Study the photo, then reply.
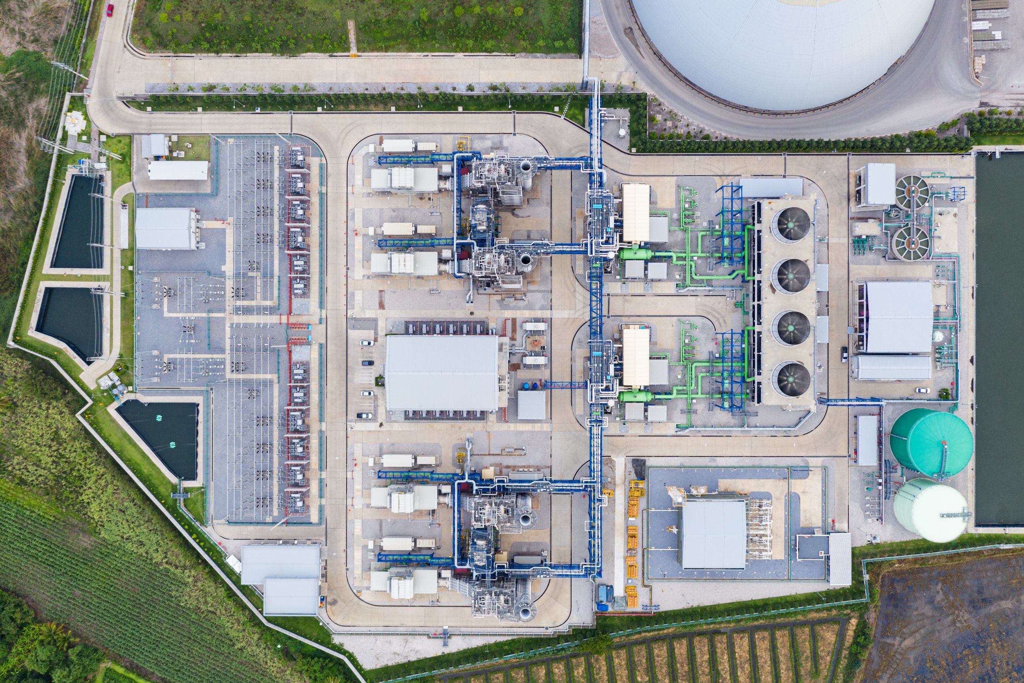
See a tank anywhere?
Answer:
Yes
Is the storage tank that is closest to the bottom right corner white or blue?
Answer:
white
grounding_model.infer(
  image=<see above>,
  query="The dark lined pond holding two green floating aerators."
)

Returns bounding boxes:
[107,393,203,487]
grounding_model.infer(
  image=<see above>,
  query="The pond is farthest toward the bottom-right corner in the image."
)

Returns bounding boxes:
[970,150,1024,533]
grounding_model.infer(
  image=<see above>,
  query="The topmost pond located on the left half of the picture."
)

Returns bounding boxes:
[42,165,112,274]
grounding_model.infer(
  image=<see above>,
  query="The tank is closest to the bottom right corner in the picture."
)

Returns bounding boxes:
[884,474,966,544]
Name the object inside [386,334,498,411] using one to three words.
building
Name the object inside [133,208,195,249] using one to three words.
building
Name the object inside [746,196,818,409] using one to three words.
cooling tower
